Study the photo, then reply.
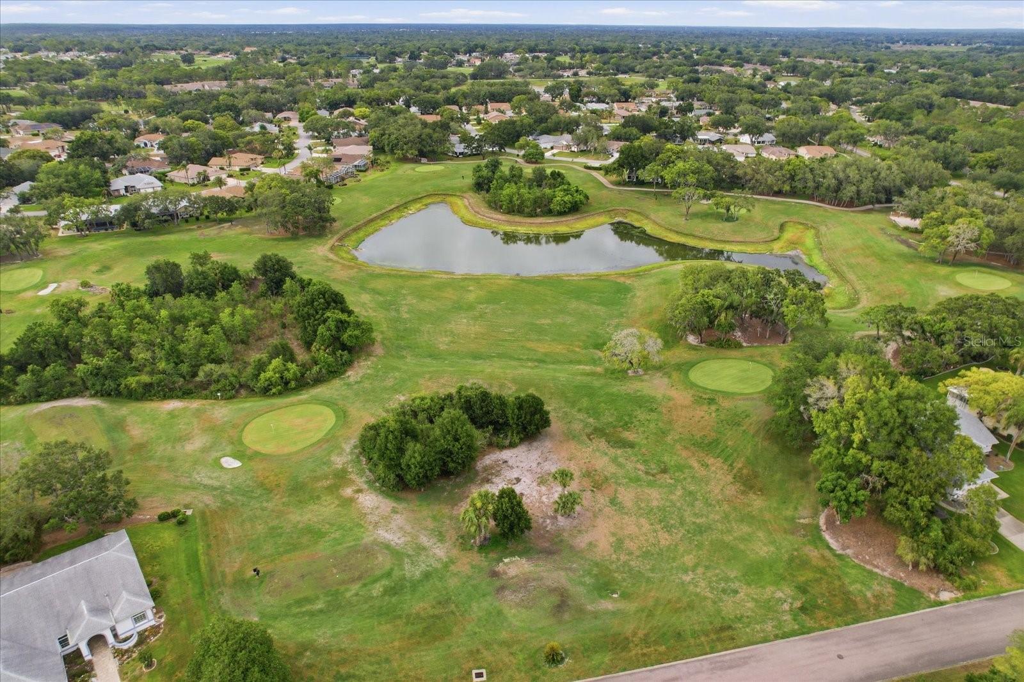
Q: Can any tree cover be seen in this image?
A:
Yes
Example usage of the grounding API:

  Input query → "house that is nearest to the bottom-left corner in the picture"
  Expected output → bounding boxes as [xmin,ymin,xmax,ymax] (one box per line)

[0,530,160,682]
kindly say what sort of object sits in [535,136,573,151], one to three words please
house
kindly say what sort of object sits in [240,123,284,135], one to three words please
house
